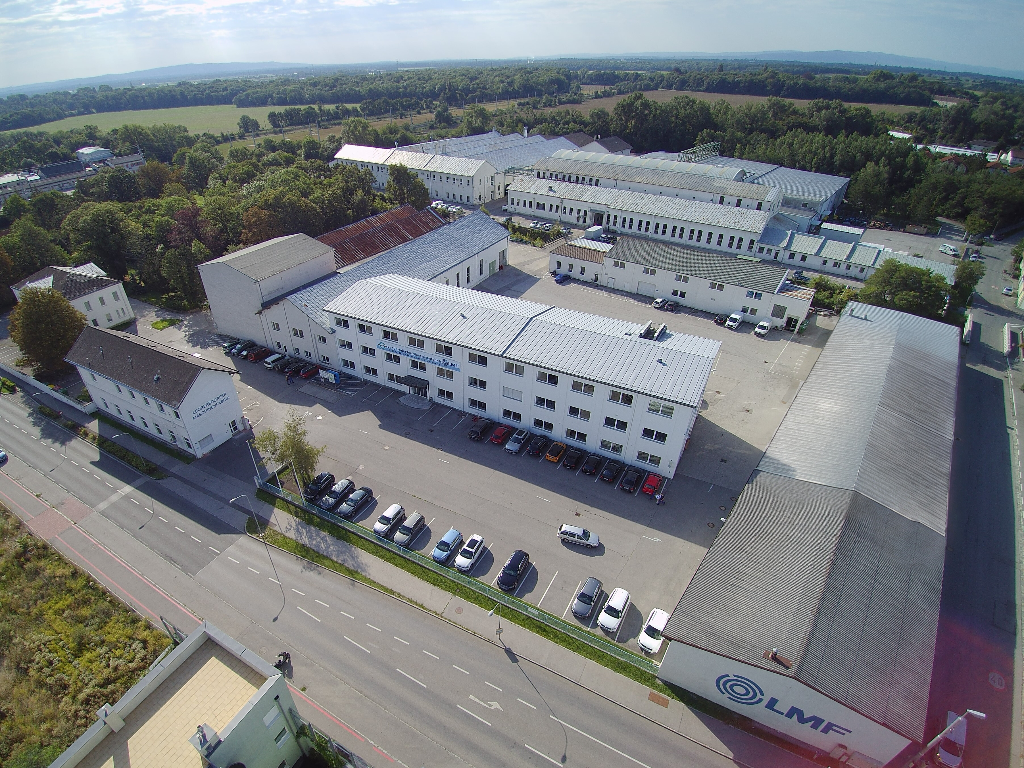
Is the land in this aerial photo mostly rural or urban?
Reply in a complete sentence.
The area is urban.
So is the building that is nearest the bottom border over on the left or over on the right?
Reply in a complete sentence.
The building that is nearest the bottom border sits on the left side.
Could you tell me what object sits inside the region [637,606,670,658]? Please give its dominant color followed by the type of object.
white car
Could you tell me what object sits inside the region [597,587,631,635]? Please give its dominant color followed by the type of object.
white car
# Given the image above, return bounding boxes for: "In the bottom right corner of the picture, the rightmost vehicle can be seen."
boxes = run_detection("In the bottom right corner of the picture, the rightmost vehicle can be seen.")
[929,699,983,768]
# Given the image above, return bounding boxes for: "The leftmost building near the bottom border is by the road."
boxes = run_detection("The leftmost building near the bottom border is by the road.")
[31,617,313,768]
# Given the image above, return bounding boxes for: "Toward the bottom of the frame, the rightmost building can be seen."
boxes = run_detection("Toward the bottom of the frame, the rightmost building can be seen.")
[656,300,960,763]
